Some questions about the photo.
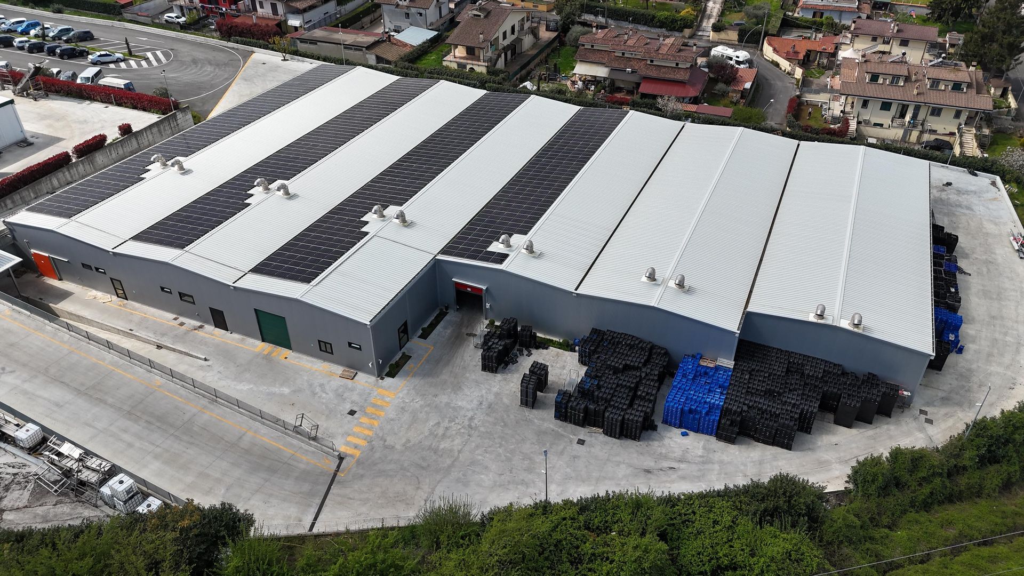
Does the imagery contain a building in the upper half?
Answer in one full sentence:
Yes, in the upper half there is a building.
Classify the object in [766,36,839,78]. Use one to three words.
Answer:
house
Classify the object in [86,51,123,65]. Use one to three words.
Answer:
car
